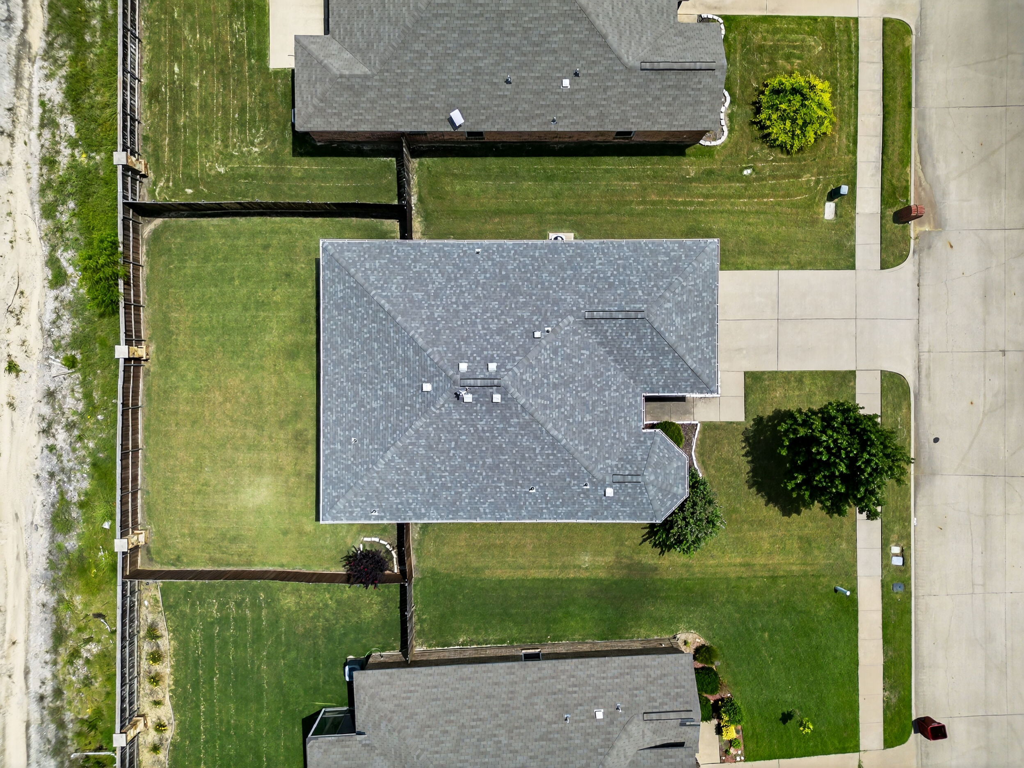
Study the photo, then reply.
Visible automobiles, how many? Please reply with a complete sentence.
The count of automobiles is 0.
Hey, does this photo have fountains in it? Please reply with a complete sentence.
No, no fountain is visible in the view.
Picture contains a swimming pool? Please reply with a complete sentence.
No, this view has no swimming pool in it.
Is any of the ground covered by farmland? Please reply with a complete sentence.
No, the scene doesn't show any farmland.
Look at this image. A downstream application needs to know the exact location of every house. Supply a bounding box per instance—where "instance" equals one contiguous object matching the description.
[306,637,707,768]
[320,238,720,524]
[294,0,729,141]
